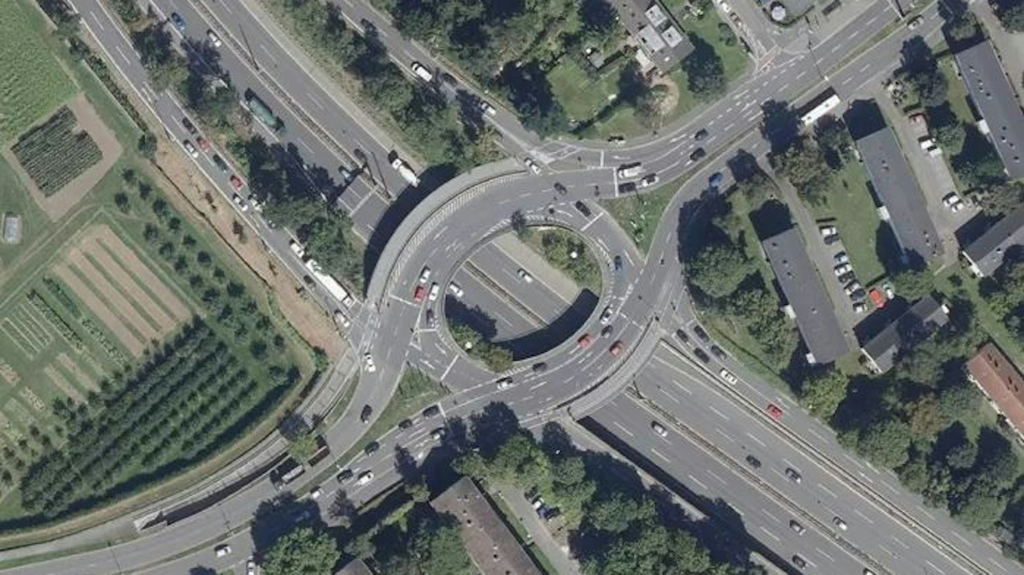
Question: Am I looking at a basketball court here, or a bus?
bus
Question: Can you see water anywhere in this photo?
No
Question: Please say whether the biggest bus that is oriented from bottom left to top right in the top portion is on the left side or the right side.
right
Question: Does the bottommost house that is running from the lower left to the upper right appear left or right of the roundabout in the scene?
right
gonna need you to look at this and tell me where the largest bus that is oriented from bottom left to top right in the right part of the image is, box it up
[796,91,844,128]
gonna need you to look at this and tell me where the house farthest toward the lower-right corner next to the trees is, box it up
[964,343,1024,439]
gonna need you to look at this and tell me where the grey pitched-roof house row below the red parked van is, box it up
[863,295,949,372]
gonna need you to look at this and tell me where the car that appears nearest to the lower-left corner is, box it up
[214,545,232,557]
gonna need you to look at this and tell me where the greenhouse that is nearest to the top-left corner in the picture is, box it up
[4,216,19,243]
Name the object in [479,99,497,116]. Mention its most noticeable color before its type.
white car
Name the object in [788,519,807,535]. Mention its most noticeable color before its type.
gray car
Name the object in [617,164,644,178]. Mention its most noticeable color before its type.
white vehicle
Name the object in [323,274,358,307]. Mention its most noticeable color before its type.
white truck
